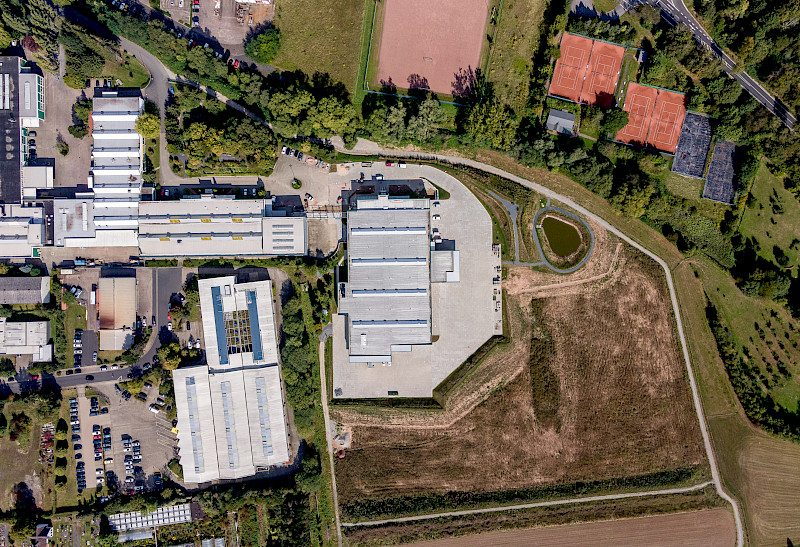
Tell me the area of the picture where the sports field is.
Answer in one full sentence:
Look in the top portion of the view to spot the sports field.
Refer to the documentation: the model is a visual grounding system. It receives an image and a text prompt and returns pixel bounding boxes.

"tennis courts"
[549,34,594,102]
[673,112,709,177]
[616,82,658,145]
[647,90,686,154]
[580,41,626,108]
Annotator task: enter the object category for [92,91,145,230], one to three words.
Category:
building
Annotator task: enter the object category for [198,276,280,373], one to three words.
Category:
building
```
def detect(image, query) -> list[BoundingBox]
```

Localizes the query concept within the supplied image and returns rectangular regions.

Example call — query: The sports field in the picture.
[378,0,489,97]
